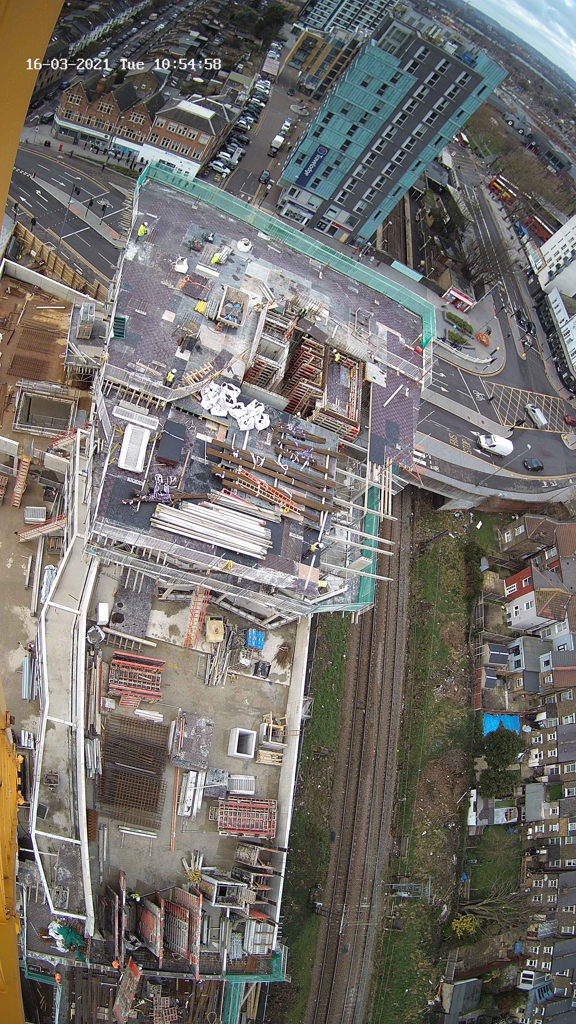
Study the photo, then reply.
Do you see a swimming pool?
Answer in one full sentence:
No, I can't see a single swimming pool in this photo.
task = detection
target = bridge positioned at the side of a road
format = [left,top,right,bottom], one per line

[378,460,576,524]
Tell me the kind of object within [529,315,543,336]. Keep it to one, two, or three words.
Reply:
car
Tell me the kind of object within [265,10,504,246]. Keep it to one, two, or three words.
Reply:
building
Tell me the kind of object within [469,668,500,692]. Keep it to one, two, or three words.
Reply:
shed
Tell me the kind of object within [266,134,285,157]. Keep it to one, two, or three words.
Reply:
vehicle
